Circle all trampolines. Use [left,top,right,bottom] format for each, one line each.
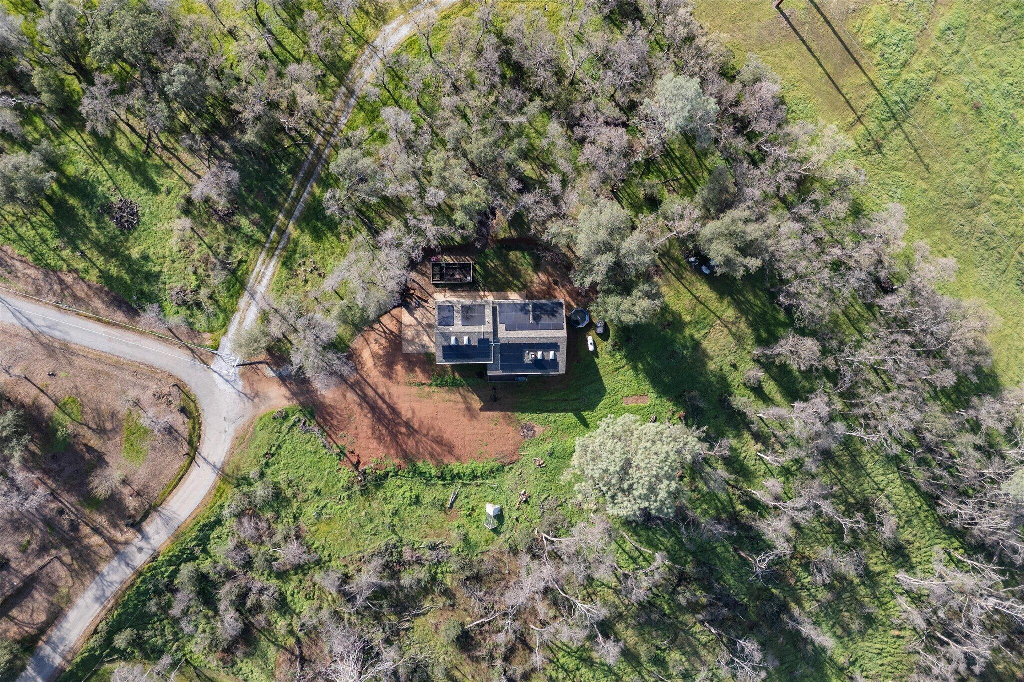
[570,306,592,328]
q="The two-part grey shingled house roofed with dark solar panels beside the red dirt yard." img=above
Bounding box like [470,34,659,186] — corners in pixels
[434,299,567,382]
